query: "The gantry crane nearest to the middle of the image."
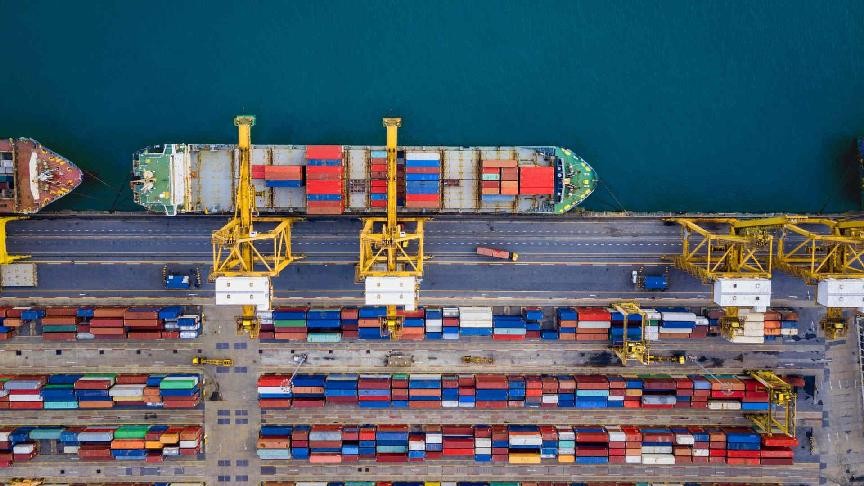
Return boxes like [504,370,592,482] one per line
[354,112,433,343]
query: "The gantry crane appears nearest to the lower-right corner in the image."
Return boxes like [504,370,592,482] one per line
[744,369,795,439]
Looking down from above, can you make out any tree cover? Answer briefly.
No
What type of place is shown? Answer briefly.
port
